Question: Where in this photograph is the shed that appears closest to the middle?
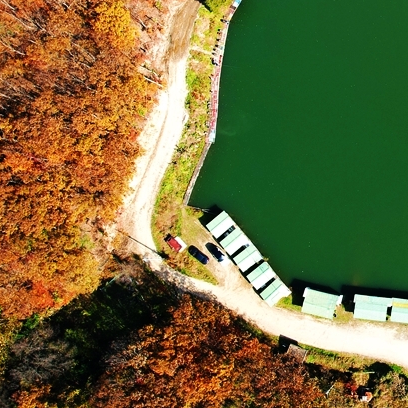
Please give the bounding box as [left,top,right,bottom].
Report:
[207,211,238,238]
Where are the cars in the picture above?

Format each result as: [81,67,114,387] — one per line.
[165,234,183,253]
[202,239,227,265]
[185,243,212,268]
